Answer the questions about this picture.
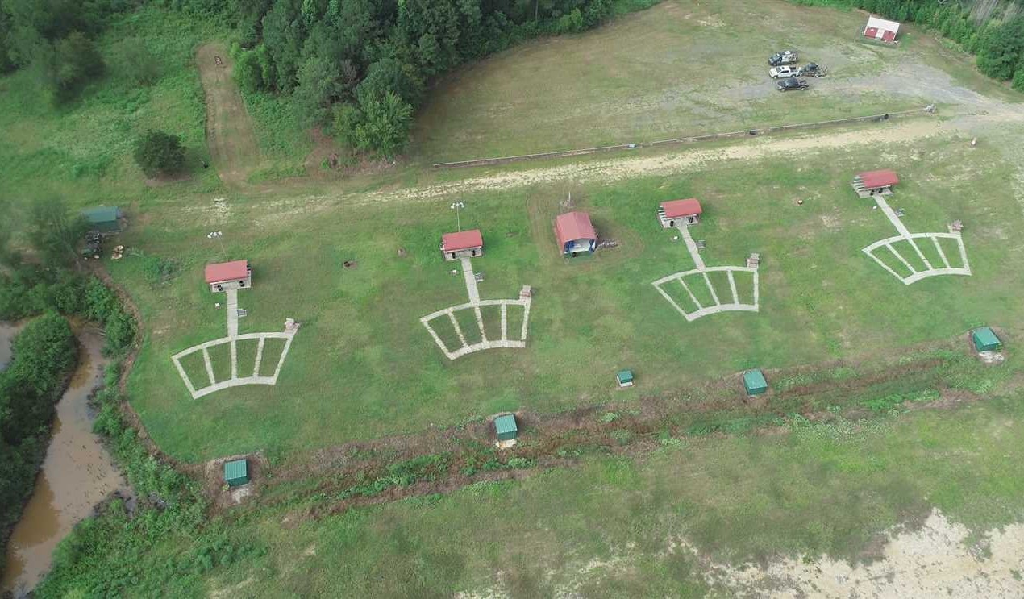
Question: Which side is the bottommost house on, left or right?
left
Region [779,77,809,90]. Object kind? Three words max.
vehicle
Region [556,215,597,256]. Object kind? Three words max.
shed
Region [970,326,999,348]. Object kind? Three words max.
house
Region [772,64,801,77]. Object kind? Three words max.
vehicle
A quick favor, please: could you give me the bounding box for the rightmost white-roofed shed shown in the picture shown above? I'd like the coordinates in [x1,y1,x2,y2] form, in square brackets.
[864,19,901,42]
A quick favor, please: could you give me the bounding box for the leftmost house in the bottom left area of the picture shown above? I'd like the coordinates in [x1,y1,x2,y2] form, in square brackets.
[227,457,249,483]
